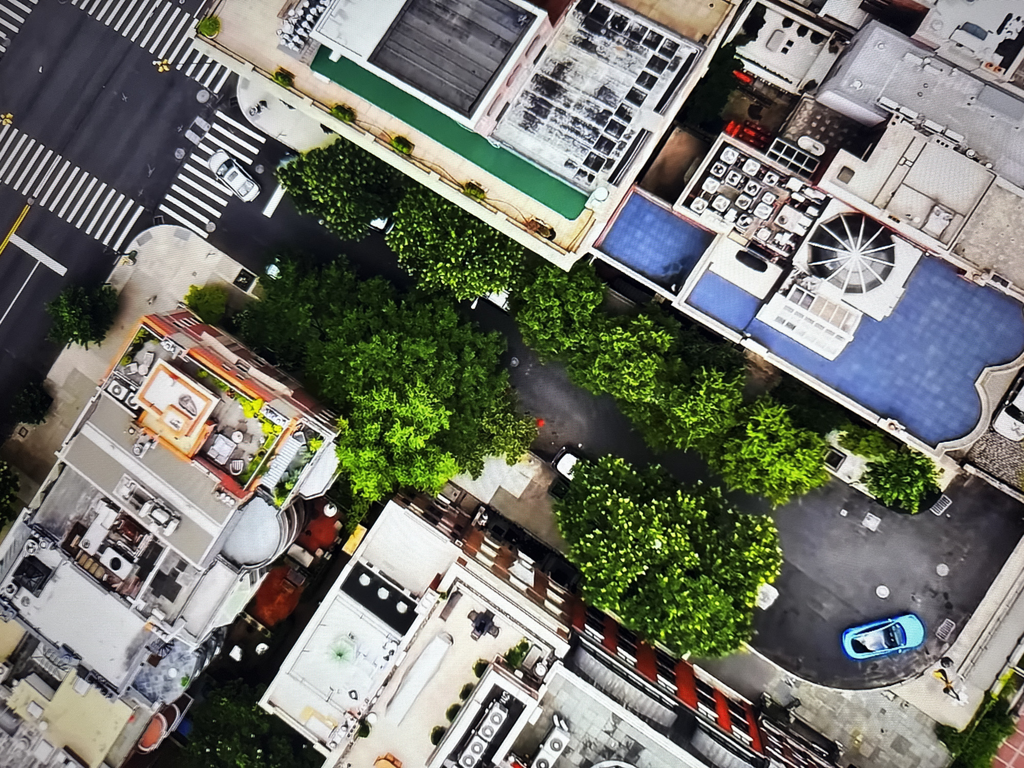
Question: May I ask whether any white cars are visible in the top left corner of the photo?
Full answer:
Yes, the scene does show a white car in the top left corner of the photo.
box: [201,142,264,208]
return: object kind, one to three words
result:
car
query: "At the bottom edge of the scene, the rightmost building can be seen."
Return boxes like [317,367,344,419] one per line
[506,584,806,768]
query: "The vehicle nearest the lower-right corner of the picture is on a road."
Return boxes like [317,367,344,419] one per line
[842,615,929,663]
